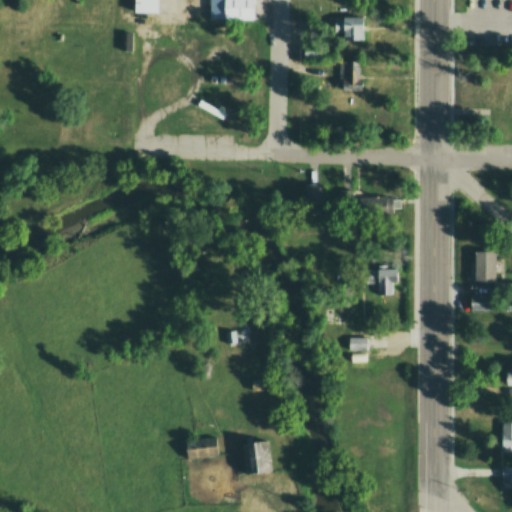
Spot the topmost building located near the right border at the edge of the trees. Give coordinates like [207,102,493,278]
[476,252,505,282]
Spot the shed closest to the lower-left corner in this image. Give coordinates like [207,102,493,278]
[187,437,220,460]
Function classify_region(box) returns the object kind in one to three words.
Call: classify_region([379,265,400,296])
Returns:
house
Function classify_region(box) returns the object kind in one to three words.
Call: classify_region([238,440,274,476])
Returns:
barn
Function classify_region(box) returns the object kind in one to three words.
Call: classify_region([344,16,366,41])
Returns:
house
